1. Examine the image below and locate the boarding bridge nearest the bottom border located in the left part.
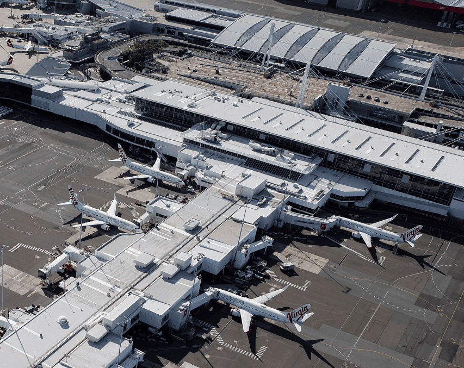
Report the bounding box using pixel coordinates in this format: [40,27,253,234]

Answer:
[118,343,149,368]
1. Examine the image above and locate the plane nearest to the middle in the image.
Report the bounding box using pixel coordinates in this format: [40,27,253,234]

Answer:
[110,145,177,187]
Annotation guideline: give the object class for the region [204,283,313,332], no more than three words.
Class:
airplane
